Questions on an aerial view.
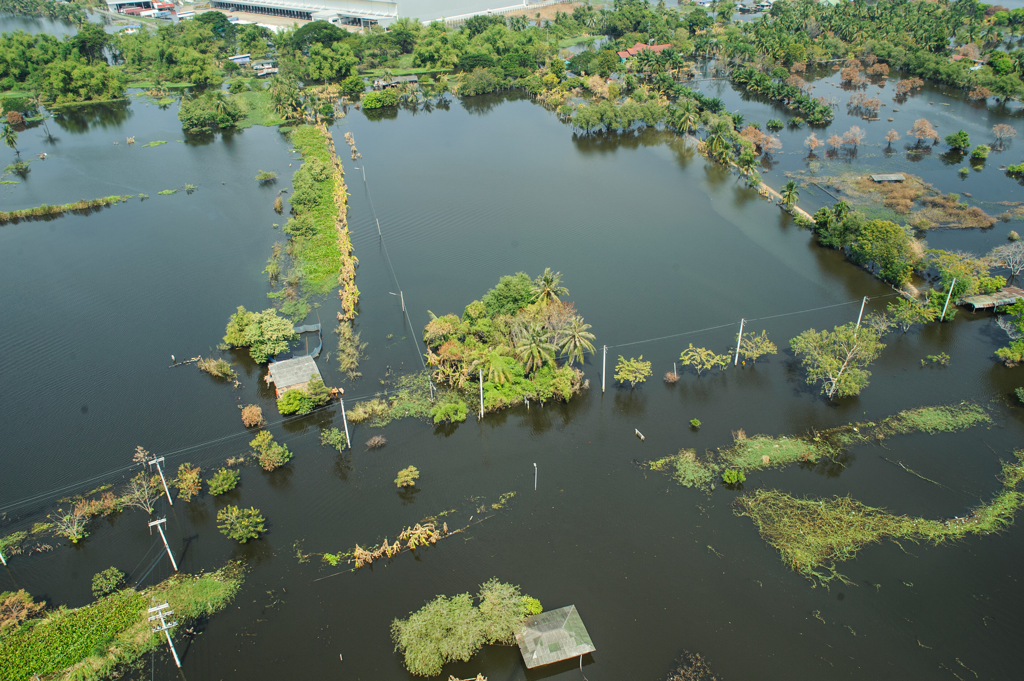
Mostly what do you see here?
water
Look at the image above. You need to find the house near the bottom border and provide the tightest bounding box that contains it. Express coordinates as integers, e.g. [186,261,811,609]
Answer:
[512,604,596,670]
